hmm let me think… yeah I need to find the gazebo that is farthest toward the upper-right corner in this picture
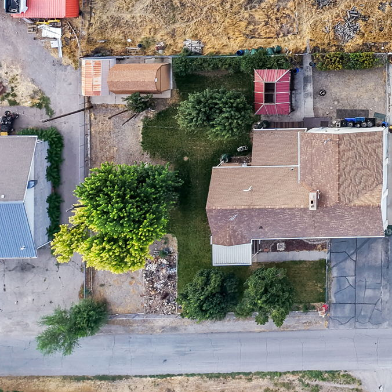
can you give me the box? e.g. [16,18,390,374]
[254,67,296,116]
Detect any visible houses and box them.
[0,135,52,260]
[206,124,392,267]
